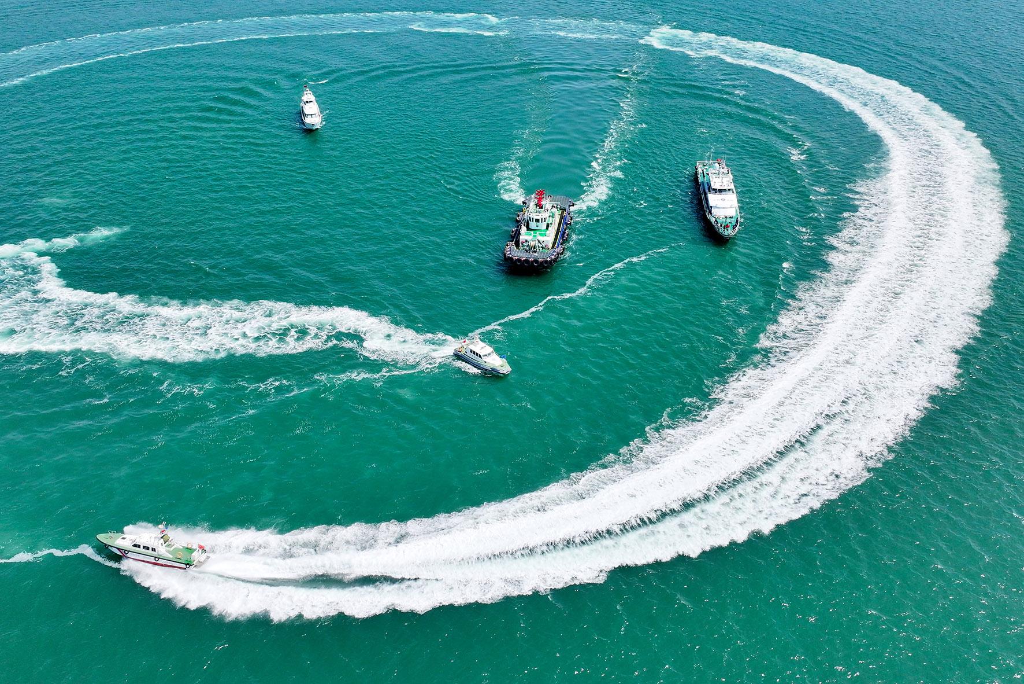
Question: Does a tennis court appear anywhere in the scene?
No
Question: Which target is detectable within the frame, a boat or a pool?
boat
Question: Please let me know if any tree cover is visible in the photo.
No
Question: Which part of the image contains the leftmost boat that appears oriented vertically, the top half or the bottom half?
top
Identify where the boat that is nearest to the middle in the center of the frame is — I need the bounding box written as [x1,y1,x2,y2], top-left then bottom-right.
[453,339,513,377]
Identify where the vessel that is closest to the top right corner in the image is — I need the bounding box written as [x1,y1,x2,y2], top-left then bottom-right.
[692,153,739,252]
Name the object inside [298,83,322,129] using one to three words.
boat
